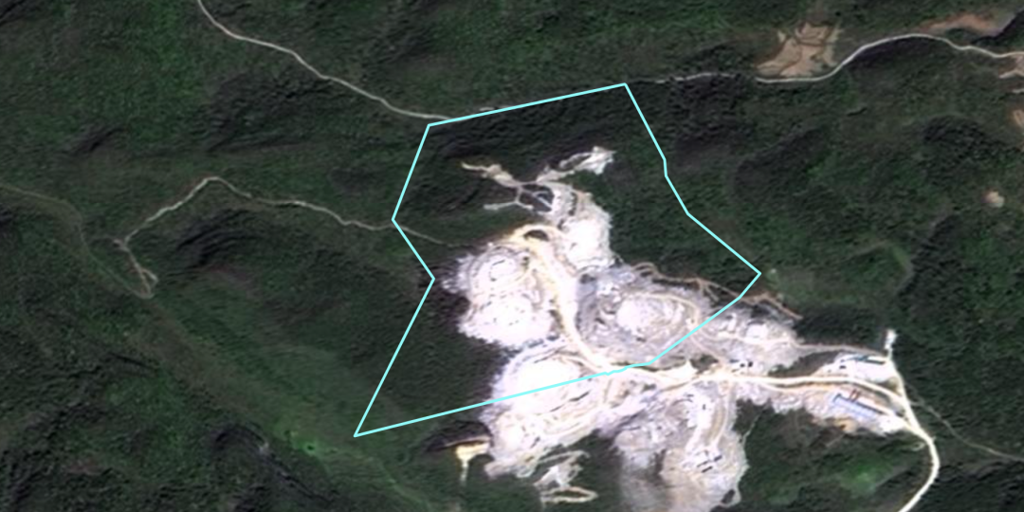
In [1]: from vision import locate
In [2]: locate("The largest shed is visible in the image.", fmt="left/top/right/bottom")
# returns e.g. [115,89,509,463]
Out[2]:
[836,395,880,420]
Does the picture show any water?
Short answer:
No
